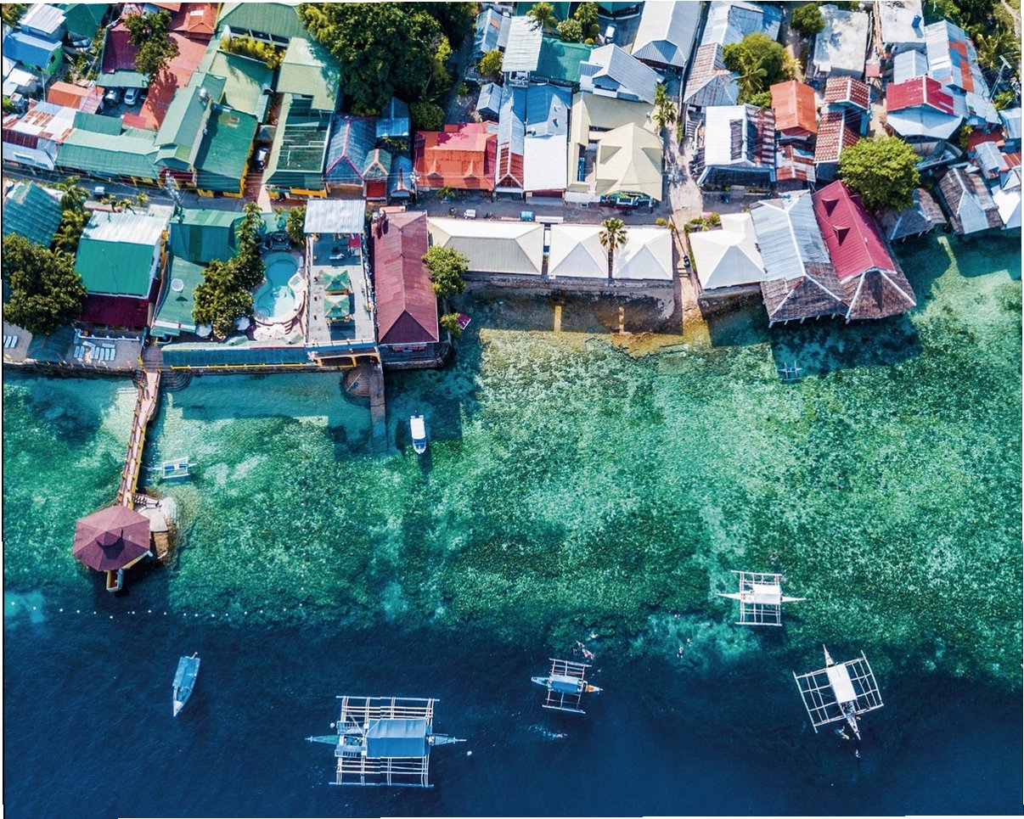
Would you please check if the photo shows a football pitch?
No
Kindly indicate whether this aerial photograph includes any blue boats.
Yes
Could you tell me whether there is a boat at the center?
Yes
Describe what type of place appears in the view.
residential area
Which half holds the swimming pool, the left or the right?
left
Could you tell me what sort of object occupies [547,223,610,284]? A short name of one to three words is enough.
building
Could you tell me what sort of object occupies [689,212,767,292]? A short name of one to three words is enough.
building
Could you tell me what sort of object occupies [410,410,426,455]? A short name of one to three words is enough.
boat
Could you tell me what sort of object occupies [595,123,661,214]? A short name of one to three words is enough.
house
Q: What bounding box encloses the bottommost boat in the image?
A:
[304,697,469,786]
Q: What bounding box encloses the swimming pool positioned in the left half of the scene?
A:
[250,251,304,323]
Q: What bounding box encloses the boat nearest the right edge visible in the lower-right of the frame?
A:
[793,645,886,741]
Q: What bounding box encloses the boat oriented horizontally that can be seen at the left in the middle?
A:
[143,457,199,477]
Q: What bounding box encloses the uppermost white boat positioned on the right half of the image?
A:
[718,571,808,626]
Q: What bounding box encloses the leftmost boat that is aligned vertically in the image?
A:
[171,651,198,718]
